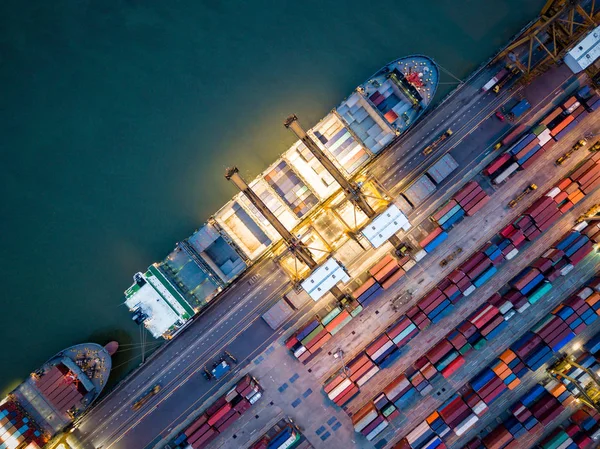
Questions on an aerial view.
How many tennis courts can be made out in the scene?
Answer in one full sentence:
The count of tennis courts is 0.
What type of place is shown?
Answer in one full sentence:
This looks like a port.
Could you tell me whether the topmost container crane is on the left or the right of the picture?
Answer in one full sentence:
The topmost container crane sits on the right side.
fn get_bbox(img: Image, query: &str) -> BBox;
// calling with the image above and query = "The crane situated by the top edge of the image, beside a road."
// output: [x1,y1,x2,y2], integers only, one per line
[490,0,600,89]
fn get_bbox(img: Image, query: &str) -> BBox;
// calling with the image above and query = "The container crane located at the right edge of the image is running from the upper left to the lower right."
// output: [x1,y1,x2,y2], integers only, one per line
[547,353,600,414]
